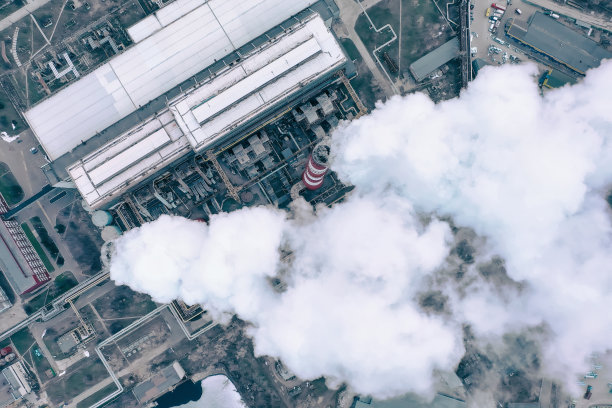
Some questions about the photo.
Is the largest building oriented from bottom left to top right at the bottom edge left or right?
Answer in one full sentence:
The largest building oriented from bottom left to top right at the bottom edge appears in the left half of the scene.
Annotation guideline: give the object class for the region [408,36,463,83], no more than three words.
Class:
building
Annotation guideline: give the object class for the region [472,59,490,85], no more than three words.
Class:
shed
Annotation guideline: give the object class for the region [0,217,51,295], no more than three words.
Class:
building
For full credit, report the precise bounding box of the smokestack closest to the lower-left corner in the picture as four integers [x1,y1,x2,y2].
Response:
[192,213,209,226]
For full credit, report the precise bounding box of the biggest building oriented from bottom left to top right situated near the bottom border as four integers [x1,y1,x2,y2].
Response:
[133,360,186,405]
